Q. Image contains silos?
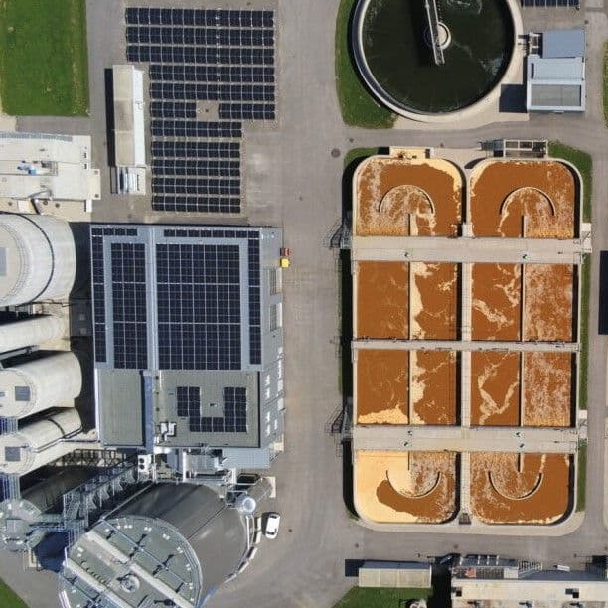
Yes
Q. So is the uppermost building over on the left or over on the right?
right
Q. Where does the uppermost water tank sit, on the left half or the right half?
right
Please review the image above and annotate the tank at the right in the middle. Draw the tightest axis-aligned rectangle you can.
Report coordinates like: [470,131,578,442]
[351,140,591,525]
